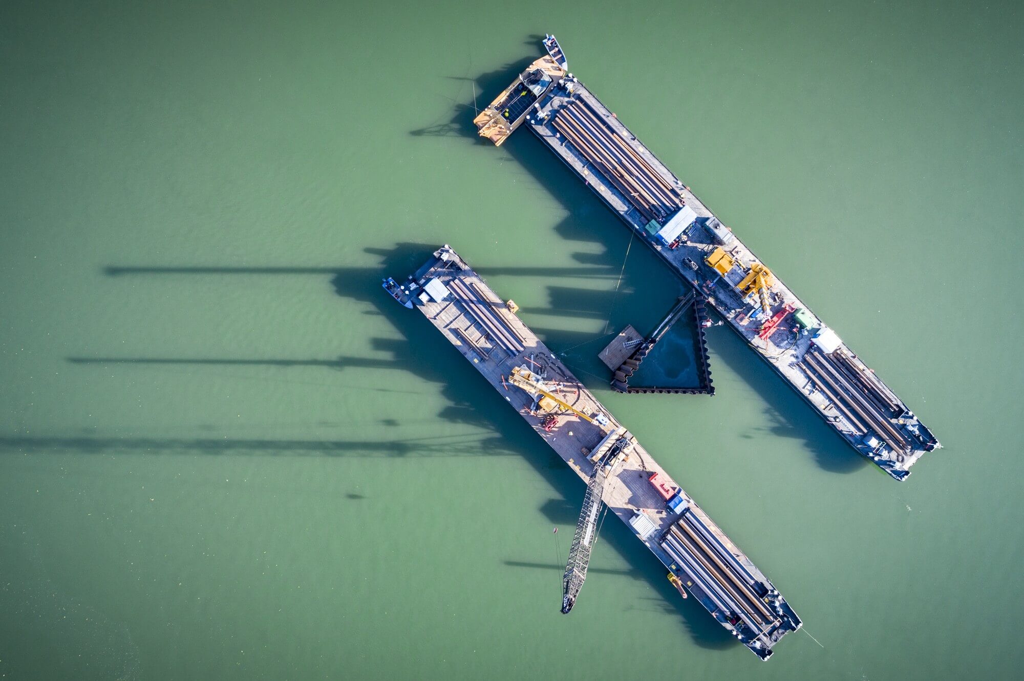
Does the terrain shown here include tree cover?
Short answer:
No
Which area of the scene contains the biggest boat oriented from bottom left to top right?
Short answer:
top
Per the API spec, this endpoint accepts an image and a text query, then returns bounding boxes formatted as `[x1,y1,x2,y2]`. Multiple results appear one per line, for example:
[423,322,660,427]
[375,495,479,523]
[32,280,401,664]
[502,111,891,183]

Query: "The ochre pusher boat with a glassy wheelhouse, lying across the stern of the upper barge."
[474,54,565,147]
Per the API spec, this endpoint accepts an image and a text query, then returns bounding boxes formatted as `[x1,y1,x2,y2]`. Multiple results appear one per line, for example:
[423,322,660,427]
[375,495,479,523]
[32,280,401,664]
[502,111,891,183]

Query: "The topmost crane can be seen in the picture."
[706,241,782,320]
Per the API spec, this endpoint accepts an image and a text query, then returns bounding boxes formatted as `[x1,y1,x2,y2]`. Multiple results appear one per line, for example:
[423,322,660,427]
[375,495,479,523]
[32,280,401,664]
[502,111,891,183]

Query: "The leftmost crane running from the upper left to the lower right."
[498,352,596,426]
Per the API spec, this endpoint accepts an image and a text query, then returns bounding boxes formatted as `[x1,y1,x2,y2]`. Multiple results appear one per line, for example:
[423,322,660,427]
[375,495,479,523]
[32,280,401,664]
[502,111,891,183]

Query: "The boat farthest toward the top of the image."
[543,33,568,72]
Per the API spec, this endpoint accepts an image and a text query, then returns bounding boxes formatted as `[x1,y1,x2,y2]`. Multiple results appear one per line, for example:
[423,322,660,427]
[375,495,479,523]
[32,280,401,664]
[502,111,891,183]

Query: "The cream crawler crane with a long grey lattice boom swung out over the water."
[556,429,636,621]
